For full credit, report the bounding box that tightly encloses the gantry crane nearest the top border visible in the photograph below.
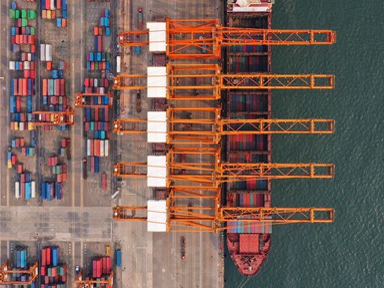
[119,18,337,62]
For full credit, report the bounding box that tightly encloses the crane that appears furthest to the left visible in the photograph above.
[0,259,39,285]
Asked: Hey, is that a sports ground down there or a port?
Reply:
port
